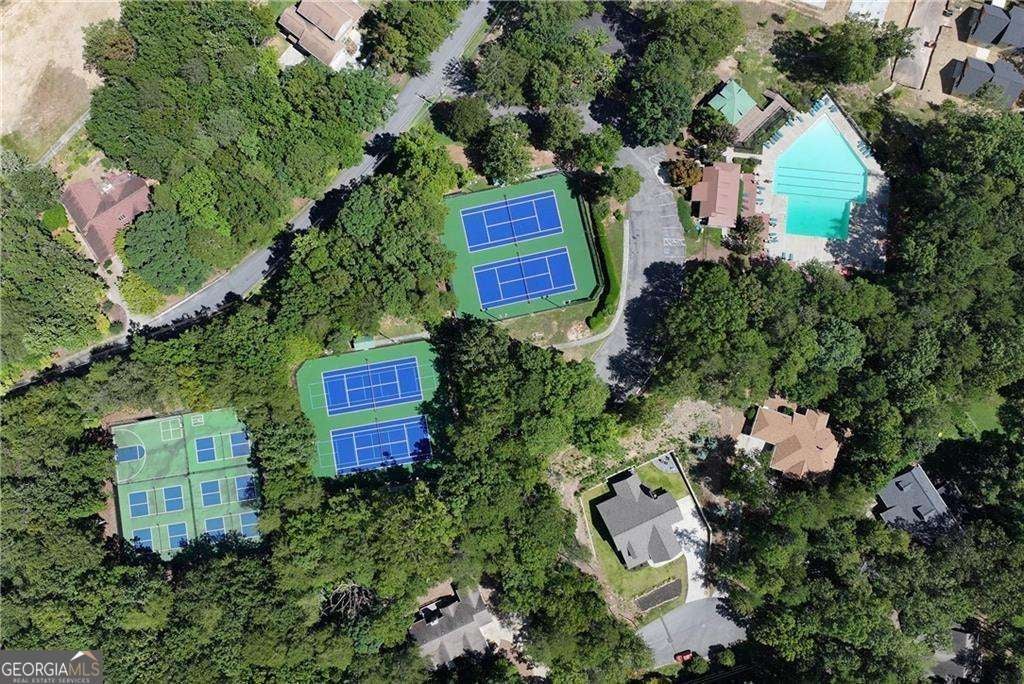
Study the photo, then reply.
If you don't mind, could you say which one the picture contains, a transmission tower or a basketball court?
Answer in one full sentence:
There is a basketball court in the scene.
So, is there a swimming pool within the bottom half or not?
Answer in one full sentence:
No, no swimming pool appears within the bottom half.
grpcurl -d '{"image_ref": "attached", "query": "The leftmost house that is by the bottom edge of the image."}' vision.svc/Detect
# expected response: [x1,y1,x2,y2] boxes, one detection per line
[411,580,493,669]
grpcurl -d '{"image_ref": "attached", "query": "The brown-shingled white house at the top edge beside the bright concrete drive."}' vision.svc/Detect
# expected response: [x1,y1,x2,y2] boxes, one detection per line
[278,0,365,66]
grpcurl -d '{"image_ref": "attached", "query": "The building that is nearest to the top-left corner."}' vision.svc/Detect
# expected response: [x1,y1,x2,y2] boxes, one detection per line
[61,173,153,263]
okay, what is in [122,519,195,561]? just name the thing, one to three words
sports court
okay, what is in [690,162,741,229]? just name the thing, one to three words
building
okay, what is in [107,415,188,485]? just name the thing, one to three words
basketball court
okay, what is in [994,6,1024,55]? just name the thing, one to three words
house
